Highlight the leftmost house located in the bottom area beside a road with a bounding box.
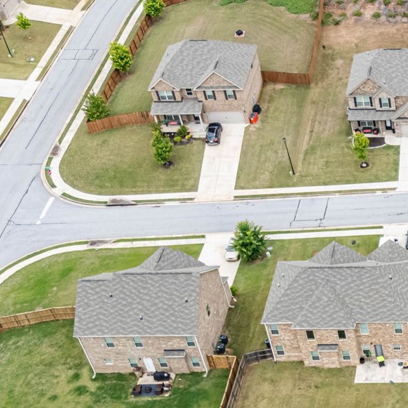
[72,245,240,376]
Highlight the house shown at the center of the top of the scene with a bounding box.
[148,42,267,131]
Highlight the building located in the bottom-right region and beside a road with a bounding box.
[261,238,408,366]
